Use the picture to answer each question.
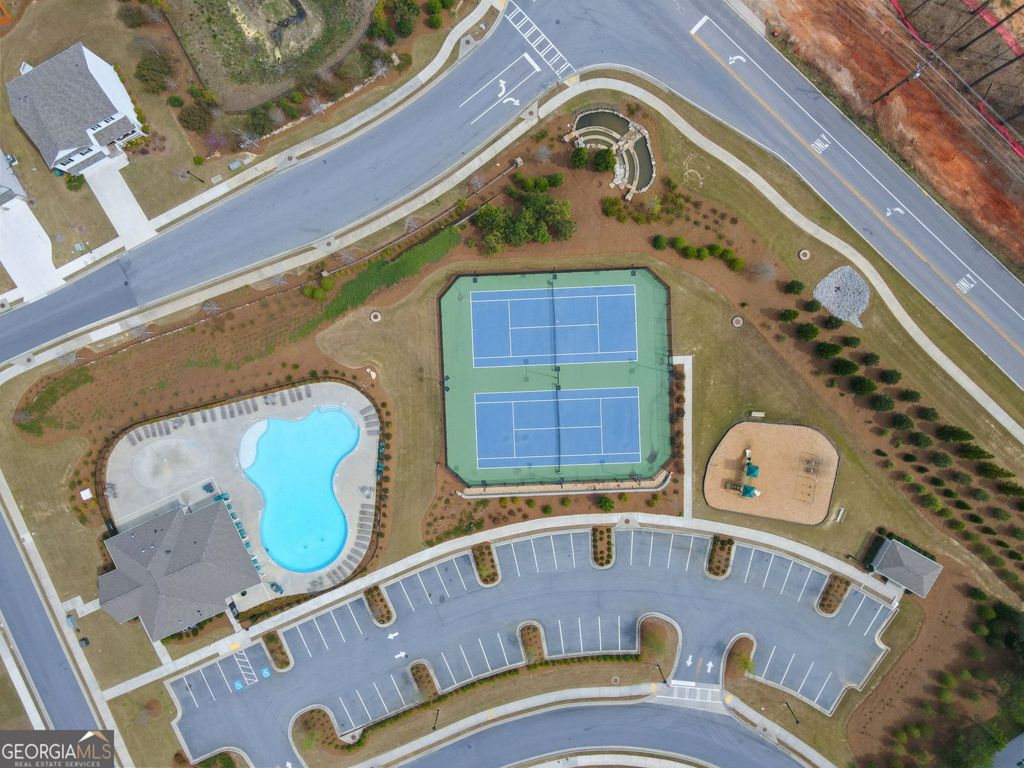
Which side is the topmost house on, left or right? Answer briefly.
left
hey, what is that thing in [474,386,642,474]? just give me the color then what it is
blue tennis court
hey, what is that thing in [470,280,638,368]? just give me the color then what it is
blue tennis court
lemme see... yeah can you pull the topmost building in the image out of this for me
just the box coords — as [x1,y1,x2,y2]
[6,41,148,179]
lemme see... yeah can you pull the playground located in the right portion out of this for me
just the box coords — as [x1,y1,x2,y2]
[702,420,842,526]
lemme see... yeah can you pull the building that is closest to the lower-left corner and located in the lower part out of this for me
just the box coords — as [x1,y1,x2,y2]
[97,498,267,643]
